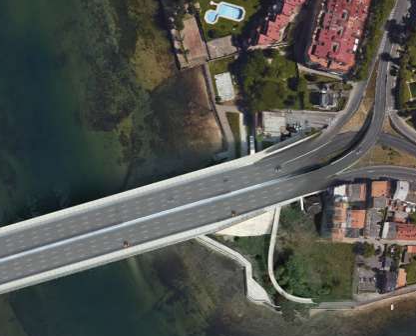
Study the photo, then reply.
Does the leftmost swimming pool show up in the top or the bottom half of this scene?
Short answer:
top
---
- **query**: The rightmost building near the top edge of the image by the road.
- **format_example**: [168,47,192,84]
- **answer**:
[304,0,371,75]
